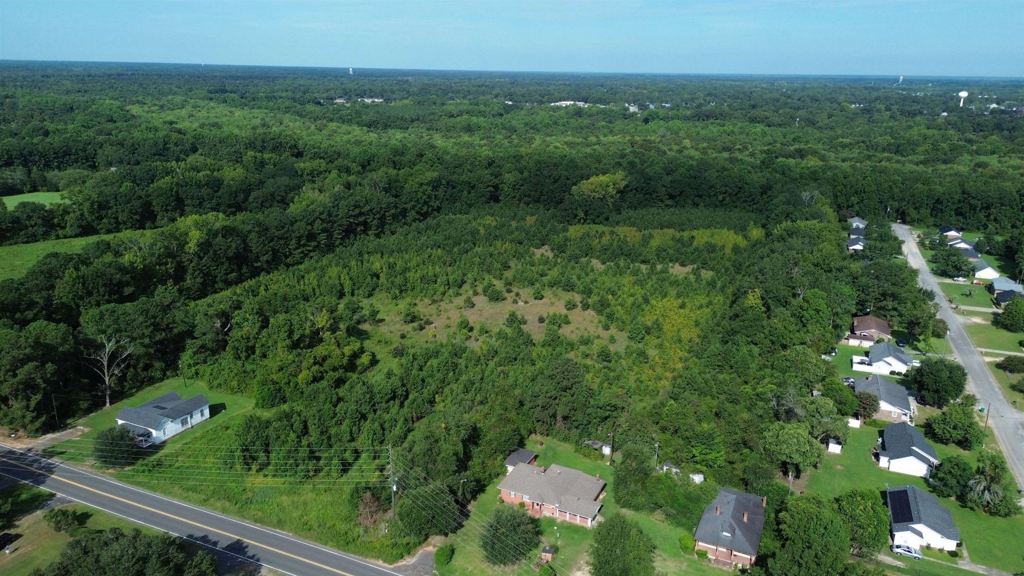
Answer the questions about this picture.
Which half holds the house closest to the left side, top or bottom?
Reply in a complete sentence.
You can find the house closest to the left side in the bottom half.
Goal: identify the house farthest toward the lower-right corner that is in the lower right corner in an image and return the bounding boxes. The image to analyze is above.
[886,479,968,549]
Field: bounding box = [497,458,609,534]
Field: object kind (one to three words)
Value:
house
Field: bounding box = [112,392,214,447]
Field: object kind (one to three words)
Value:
house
